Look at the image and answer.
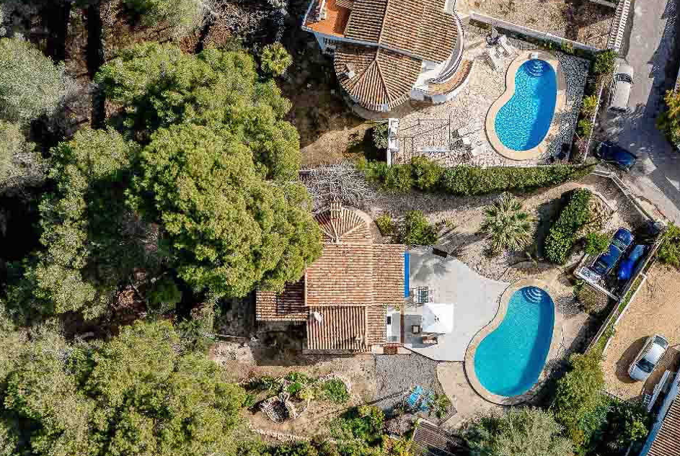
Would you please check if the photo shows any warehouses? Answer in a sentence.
No, no warehouse can be seen from above.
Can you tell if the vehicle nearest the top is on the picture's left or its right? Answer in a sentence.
The vehicle nearest the top is on the right side of the image.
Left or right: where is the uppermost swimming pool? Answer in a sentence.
The uppermost swimming pool appears in the right half of the scene.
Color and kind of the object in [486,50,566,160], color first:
blue swimming pool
